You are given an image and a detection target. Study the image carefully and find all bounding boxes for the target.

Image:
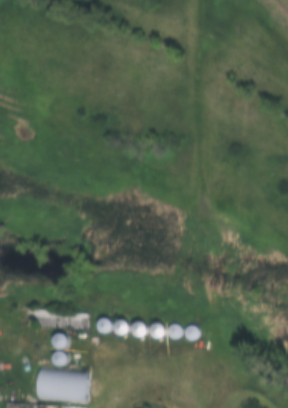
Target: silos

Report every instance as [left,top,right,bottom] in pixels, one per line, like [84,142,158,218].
[96,317,114,334]
[184,324,202,342]
[167,324,184,340]
[52,350,71,368]
[130,321,149,340]
[112,320,131,337]
[148,322,167,340]
[51,332,70,350]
